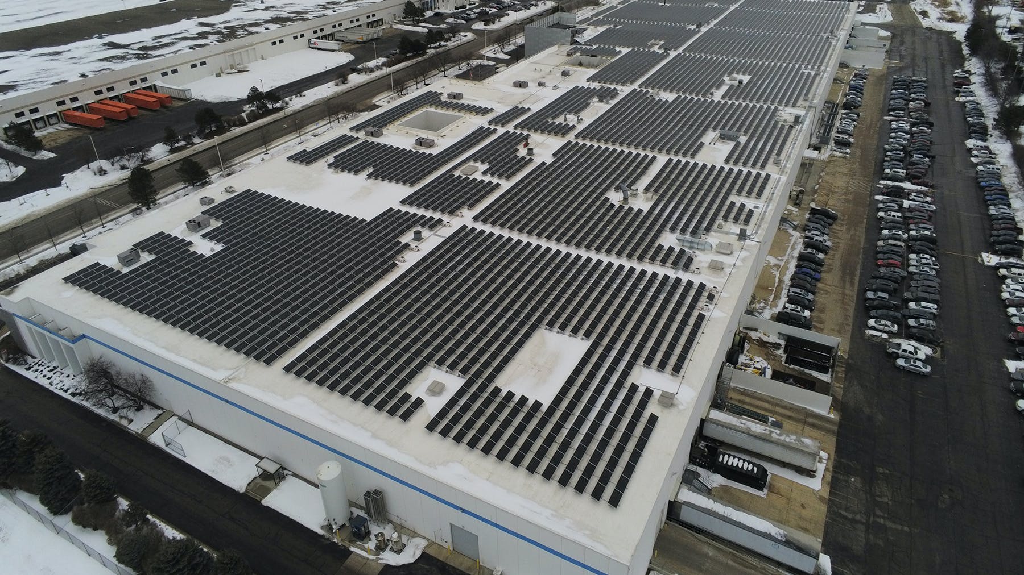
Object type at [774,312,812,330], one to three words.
vehicle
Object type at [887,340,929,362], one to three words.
truck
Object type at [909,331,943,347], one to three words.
car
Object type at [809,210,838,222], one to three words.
vehicle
